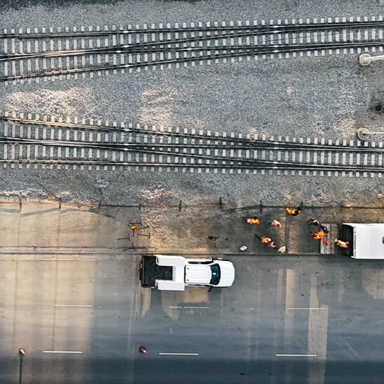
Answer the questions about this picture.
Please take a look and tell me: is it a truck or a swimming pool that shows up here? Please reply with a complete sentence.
It is a truck that can be seen here.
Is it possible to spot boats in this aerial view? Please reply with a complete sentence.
No, there appears to be no boat in this shot.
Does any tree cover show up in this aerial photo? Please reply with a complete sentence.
No, the picture contains no tree cover.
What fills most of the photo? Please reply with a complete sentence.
What you mostly see from above here is paved ground.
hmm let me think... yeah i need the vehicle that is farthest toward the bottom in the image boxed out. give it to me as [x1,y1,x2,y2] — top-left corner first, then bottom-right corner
[138,256,235,289]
